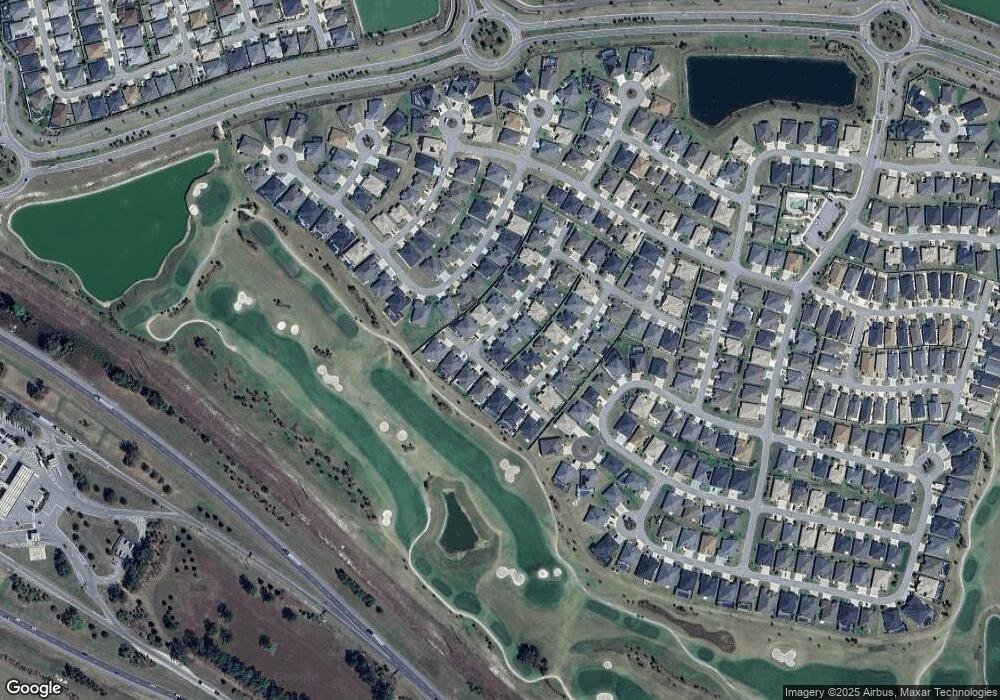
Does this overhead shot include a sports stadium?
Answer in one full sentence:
No, I can see no sports stadium in this picture.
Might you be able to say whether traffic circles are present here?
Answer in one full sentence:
Yes, looking at the shot, I can spot a traffic circle.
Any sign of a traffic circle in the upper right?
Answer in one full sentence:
Yes, in the upper right there is a traffic circle.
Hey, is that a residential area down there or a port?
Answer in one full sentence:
The area seen from above is a residential area.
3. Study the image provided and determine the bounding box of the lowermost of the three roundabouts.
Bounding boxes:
[0,135,31,199]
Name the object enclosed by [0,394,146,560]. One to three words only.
service area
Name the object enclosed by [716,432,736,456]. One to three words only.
house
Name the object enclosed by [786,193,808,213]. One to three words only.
swimming pool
